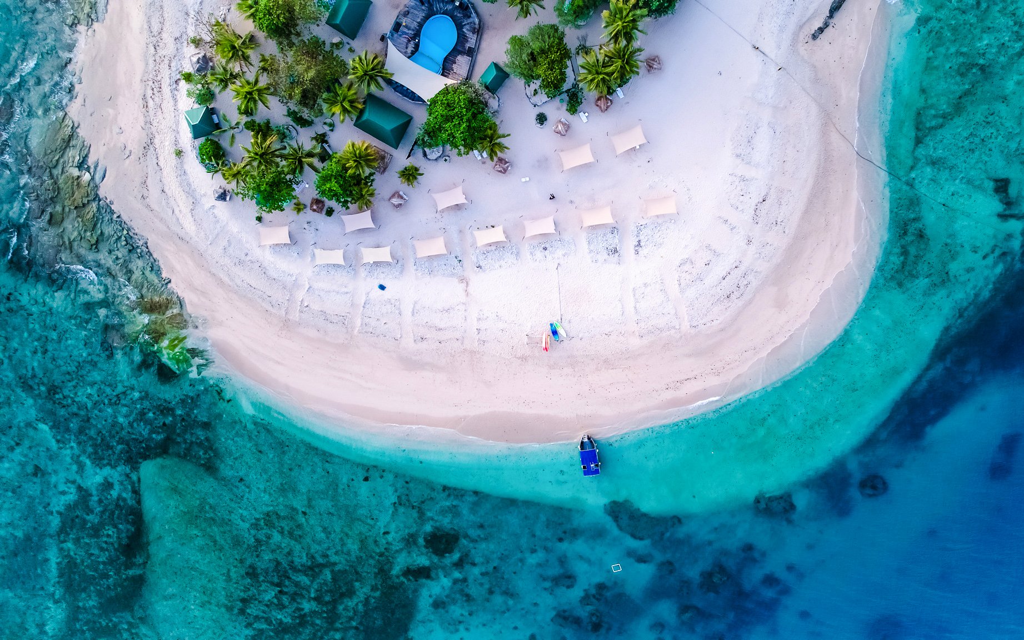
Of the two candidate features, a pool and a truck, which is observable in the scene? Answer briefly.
pool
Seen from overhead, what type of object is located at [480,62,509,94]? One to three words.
shed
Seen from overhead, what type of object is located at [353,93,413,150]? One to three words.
shed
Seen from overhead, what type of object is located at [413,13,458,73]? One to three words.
swimming pool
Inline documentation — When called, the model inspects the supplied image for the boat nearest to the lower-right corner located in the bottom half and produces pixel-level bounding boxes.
[578,431,601,477]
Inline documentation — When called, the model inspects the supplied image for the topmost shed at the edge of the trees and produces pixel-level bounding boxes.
[329,0,373,40]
